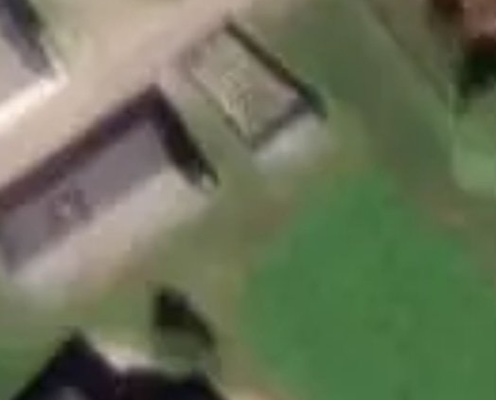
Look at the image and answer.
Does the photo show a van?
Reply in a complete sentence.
No, there isn't any van down there.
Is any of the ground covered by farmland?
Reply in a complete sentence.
Yes, there's farmland in this view.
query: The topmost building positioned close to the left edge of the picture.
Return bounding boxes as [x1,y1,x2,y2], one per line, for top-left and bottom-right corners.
[0,0,64,131]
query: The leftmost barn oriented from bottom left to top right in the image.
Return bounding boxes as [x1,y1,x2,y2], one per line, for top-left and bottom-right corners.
[0,117,199,309]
